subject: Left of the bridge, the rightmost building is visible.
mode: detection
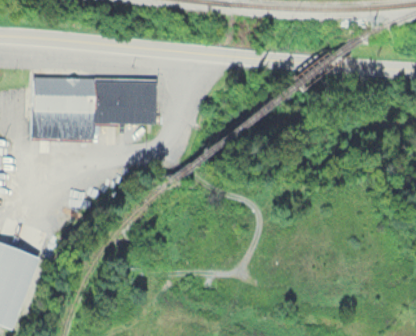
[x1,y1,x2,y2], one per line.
[94,78,160,126]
